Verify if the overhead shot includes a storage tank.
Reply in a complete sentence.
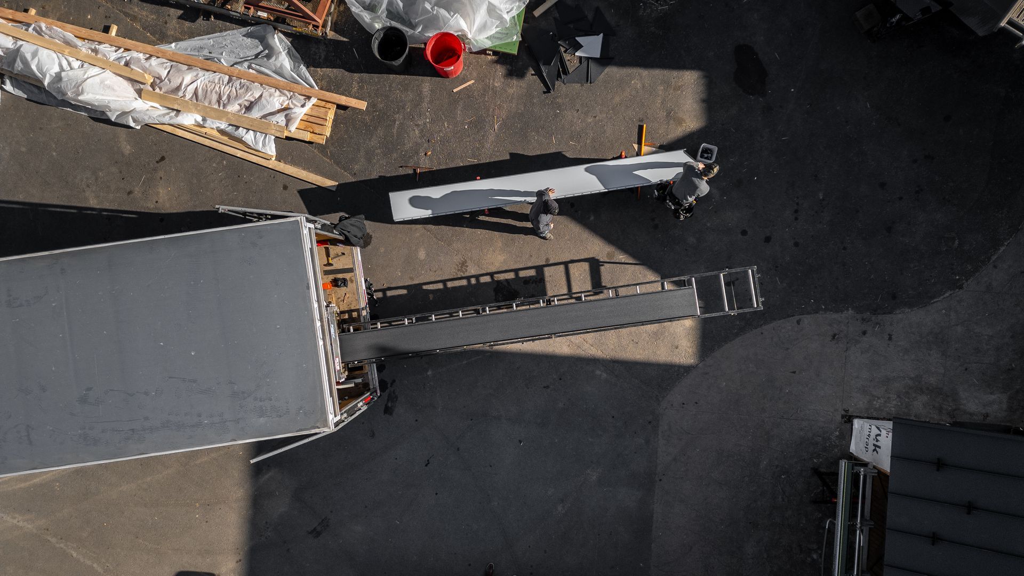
No, the photo shows no storage tank.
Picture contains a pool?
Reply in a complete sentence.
No, there appears to be no pool in this shot.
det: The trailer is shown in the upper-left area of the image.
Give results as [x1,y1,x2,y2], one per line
[148,0,337,40]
